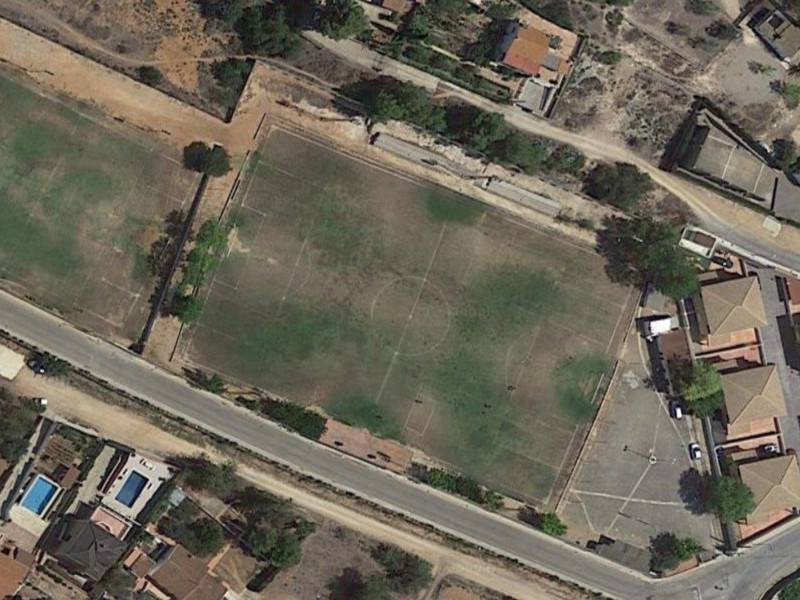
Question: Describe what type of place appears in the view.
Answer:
sports ground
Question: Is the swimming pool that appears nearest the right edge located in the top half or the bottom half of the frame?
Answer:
bottom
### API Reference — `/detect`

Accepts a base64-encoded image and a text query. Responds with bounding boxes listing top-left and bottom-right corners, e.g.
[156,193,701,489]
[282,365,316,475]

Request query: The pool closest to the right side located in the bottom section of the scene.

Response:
[99,452,177,521]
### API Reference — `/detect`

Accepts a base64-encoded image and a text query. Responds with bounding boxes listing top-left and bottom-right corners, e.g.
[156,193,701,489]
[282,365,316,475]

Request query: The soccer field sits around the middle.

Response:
[172,118,645,509]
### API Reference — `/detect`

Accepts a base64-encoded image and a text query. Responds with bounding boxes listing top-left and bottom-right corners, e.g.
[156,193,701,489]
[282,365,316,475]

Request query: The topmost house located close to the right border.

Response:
[746,9,800,62]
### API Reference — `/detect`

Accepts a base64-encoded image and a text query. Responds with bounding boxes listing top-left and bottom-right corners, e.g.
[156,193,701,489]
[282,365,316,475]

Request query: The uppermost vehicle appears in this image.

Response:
[715,255,730,269]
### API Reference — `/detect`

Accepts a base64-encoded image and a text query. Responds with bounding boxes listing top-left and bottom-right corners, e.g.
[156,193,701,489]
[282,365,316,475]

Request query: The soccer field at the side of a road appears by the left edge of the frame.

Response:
[0,76,200,348]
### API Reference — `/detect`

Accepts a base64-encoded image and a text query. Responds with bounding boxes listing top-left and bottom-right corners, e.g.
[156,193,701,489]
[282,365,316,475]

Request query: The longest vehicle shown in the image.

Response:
[649,319,679,336]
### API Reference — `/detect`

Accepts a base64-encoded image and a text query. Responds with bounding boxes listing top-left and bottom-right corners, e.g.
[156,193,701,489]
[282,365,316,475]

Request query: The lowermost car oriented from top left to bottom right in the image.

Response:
[26,355,44,371]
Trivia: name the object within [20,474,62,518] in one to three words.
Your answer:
swimming pool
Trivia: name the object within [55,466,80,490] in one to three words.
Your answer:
building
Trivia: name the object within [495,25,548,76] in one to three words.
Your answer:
house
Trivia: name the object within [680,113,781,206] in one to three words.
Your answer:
tennis court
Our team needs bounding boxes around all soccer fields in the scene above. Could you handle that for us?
[172,118,645,509]
[0,76,200,348]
